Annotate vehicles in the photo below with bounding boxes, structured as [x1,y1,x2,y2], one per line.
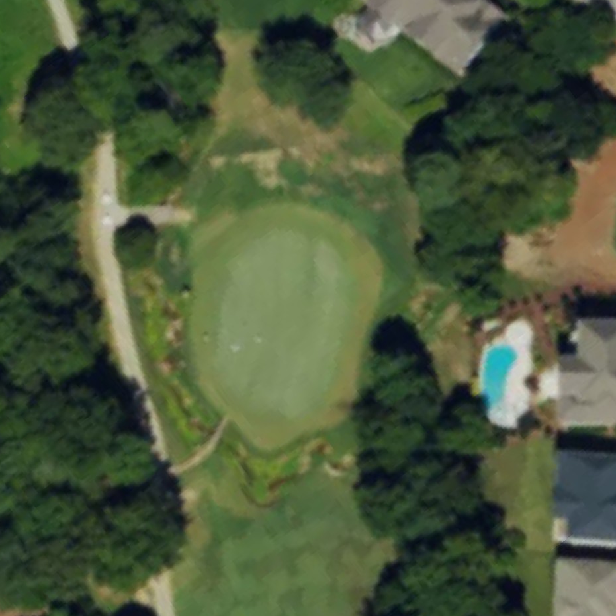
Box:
[102,212,112,227]
[101,189,111,206]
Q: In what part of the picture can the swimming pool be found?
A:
right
